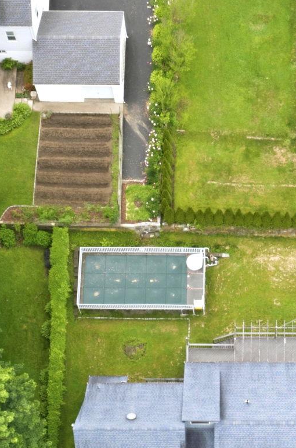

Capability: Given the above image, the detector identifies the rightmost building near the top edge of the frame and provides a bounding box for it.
[29,10,127,106]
